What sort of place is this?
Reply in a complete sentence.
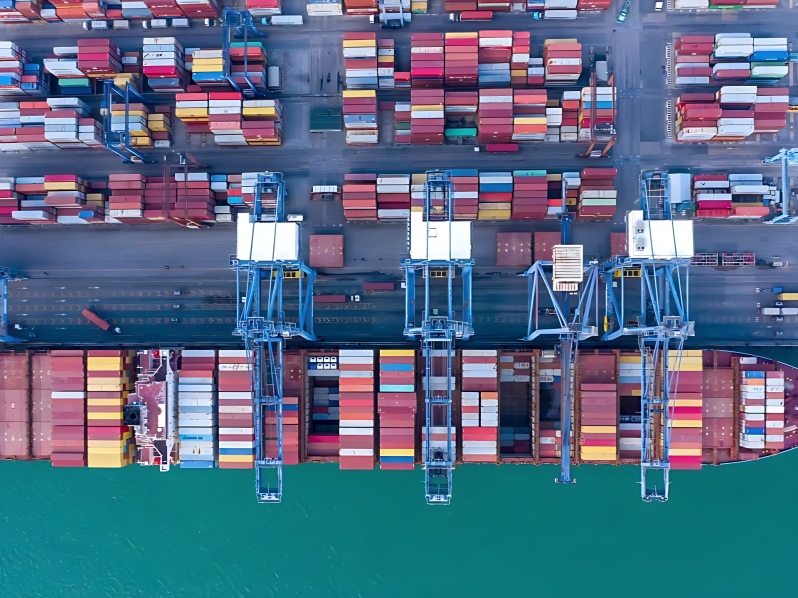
The area seen from above is a port.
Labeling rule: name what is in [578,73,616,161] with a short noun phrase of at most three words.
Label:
crane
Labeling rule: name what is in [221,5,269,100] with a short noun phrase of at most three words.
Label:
crane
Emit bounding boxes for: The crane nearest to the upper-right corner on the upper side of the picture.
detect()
[758,143,798,228]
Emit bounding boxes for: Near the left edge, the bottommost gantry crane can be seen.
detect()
[0,265,31,338]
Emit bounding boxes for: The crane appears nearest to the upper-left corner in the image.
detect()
[103,80,159,165]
